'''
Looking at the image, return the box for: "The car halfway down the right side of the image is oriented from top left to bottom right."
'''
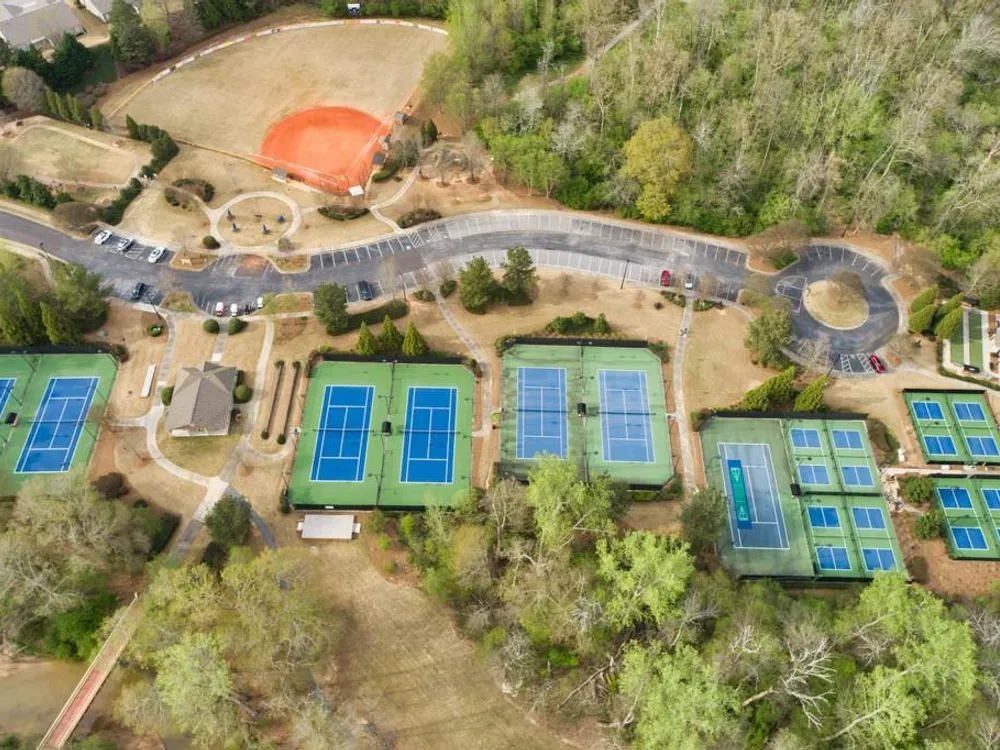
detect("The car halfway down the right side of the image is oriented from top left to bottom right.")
[868,355,886,374]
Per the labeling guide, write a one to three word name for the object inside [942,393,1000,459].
sports court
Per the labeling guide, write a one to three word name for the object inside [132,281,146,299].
car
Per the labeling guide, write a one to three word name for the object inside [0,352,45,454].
tennis court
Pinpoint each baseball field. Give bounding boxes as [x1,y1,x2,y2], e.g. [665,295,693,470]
[117,24,446,194]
